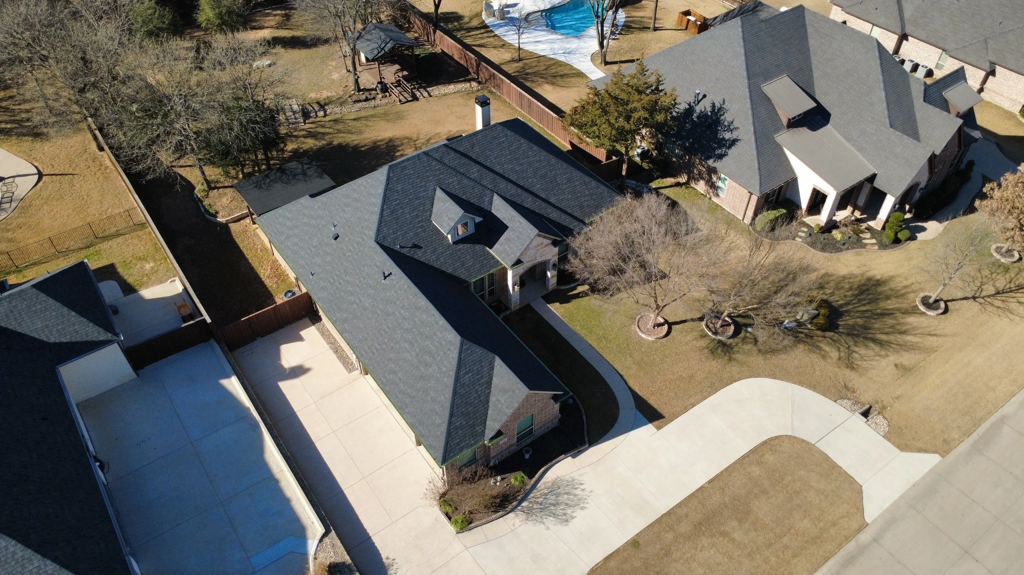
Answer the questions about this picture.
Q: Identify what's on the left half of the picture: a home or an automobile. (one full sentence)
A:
The one visible on the left half of the picture is a home.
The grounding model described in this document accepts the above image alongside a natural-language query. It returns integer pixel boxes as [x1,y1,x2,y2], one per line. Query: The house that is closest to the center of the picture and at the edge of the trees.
[232,88,632,493]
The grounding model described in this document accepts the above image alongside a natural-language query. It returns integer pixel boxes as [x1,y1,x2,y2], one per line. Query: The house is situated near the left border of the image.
[0,259,138,575]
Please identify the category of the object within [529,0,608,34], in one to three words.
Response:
swimming pool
